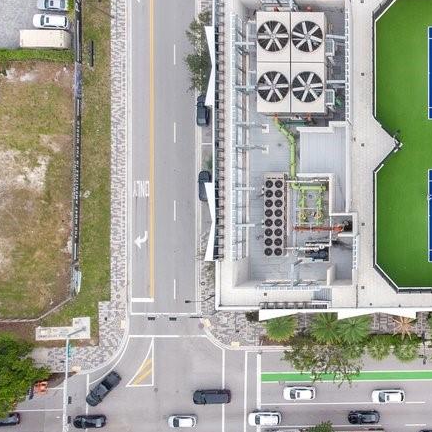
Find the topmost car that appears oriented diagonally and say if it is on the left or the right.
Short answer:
left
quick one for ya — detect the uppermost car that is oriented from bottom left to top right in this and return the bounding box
[87,371,124,405]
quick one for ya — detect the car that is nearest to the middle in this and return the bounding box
[196,171,212,202]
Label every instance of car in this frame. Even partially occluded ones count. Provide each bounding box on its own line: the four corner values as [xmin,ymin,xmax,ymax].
[372,387,405,404]
[0,412,22,428]
[194,96,211,127]
[169,413,198,429]
[248,410,283,427]
[196,171,212,202]
[37,0,68,11]
[74,413,108,429]
[283,384,317,401]
[193,387,232,405]
[87,371,124,405]
[33,13,70,29]
[347,408,380,425]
